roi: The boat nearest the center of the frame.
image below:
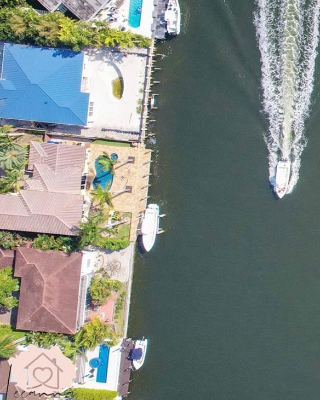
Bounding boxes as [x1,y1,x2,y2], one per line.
[140,204,159,252]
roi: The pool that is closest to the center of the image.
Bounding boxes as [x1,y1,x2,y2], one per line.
[92,152,118,192]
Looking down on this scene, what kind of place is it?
residential area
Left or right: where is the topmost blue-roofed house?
left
